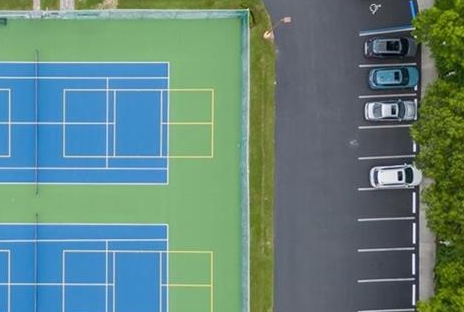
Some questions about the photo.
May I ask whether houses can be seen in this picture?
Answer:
No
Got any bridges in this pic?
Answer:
No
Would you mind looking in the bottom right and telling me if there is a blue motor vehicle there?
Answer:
No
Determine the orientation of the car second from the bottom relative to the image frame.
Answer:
horizontally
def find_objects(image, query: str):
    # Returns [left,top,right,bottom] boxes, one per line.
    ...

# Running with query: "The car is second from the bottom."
[366,97,420,121]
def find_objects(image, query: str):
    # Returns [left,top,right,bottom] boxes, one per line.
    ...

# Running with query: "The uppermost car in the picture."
[366,33,420,58]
